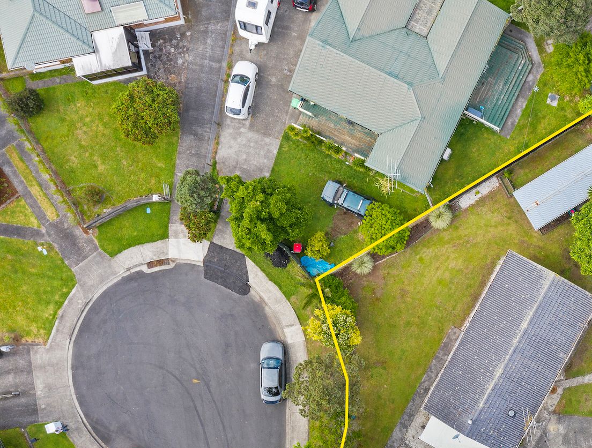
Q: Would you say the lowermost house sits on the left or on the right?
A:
right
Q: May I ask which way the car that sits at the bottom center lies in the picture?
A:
up and down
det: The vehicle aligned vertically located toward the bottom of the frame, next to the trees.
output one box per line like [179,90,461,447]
[257,342,288,404]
